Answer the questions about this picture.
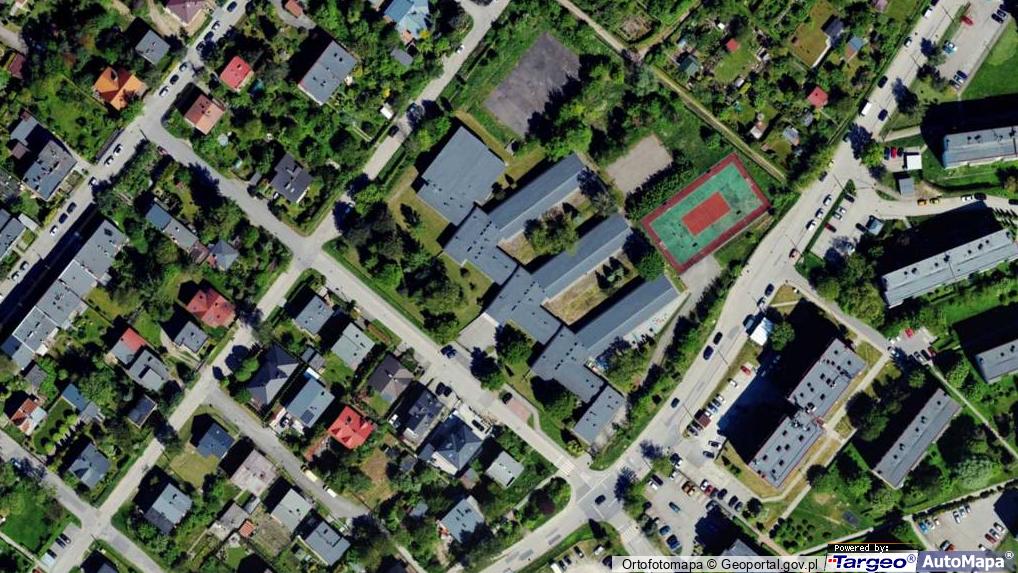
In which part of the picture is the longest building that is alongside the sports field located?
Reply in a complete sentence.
Look in the center portion of the view to spot the longest building that is alongside the sports field.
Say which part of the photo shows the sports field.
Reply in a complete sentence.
The sports field is located in the top region of the scene.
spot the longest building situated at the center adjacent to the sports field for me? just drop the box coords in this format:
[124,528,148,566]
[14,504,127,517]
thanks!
[417,125,680,445]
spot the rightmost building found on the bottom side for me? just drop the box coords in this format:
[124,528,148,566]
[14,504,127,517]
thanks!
[973,340,1018,383]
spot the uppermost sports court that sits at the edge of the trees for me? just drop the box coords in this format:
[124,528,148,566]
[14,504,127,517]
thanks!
[605,134,673,199]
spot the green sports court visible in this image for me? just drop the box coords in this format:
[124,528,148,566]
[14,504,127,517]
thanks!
[641,152,771,274]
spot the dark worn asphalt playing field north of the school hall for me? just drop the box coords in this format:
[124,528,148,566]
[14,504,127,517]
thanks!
[484,32,581,137]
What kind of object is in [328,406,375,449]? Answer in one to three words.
house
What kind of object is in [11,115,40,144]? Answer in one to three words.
shed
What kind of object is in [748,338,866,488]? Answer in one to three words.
building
